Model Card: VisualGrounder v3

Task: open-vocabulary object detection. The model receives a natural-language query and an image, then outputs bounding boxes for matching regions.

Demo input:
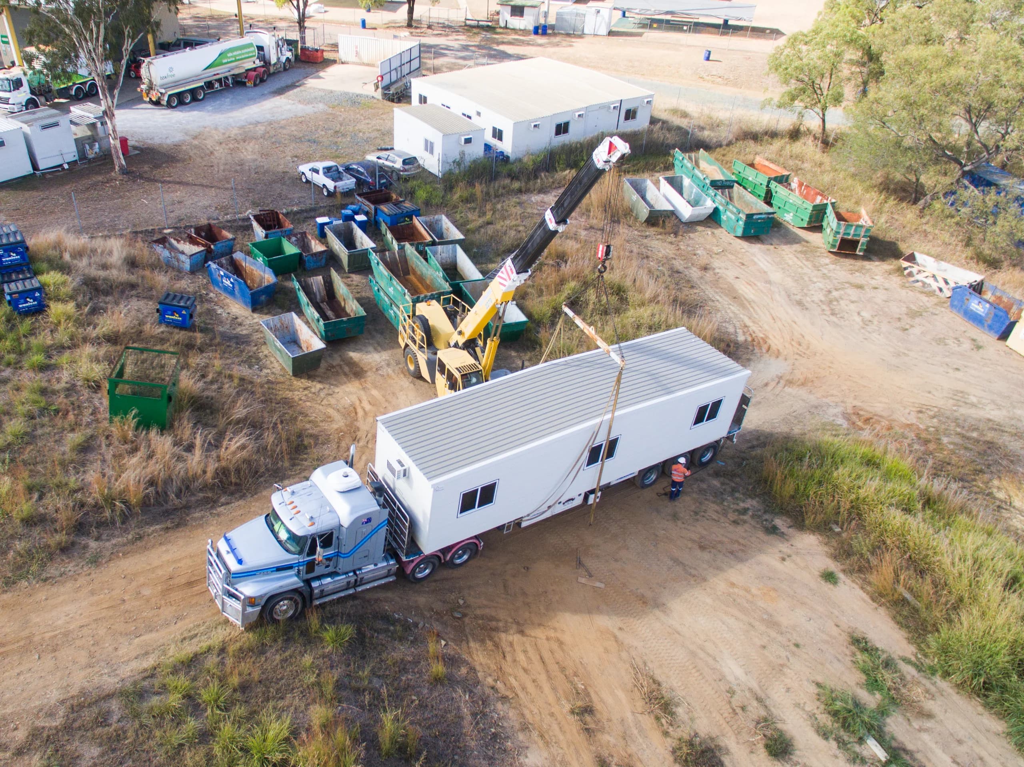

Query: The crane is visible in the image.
[399,143,640,399]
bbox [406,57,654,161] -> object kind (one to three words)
building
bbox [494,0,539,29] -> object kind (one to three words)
shed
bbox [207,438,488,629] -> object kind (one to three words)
truck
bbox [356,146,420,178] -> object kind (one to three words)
car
